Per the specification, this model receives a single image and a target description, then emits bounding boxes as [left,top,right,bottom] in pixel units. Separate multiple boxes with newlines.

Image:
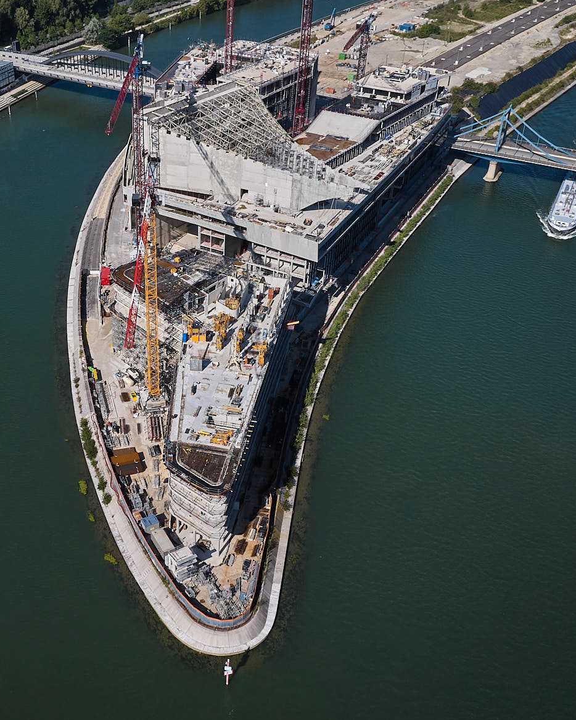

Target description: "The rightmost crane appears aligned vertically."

[340,8,370,83]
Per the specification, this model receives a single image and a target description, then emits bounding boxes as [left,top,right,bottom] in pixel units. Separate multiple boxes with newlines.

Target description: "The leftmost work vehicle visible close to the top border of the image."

[324,0,337,28]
